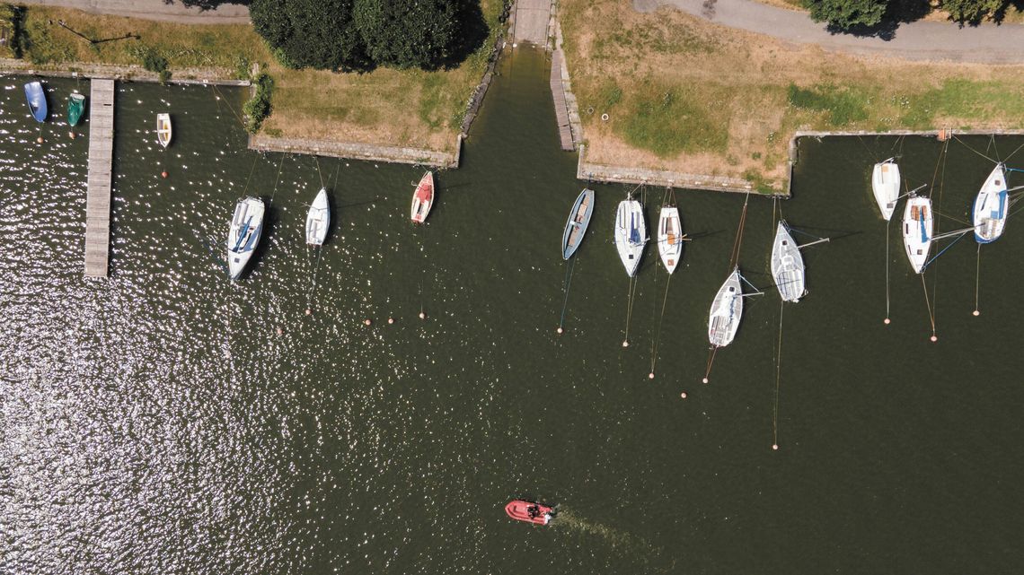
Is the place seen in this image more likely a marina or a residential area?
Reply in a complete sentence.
This image shows a marina.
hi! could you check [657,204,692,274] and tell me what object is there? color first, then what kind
white boat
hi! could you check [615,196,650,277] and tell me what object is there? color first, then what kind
white boat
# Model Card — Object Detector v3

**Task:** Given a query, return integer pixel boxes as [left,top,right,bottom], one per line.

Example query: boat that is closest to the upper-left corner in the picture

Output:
[24,81,50,123]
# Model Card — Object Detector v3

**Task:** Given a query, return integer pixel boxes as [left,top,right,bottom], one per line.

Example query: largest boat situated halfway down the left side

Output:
[202,197,266,280]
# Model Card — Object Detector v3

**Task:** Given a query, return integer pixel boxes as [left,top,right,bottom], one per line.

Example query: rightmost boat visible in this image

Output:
[970,162,1024,242]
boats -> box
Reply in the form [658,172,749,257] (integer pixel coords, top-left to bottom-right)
[302,187,330,248]
[156,112,172,148]
[504,499,555,526]
[202,197,266,280]
[615,196,650,277]
[562,188,595,260]
[970,162,1024,242]
[657,204,692,274]
[900,194,975,273]
[24,81,50,123]
[67,93,87,127]
[871,158,927,221]
[708,270,765,346]
[770,221,829,304]
[411,171,434,225]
